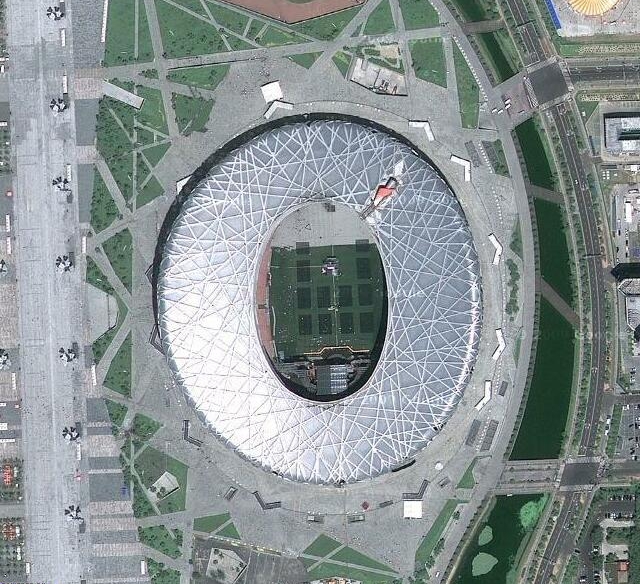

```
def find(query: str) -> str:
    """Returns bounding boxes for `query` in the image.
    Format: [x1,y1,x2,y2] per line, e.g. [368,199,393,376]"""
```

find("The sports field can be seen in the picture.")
[272,200,384,399]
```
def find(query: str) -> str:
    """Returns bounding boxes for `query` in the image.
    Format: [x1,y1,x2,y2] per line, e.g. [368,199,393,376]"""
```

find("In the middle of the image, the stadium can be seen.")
[159,121,482,483]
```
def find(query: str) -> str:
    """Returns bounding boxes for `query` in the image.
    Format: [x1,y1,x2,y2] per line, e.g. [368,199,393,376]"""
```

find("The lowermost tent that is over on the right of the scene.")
[403,501,422,518]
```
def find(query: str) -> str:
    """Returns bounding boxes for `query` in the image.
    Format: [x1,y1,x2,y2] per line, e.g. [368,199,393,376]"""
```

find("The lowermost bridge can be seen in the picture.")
[499,458,563,494]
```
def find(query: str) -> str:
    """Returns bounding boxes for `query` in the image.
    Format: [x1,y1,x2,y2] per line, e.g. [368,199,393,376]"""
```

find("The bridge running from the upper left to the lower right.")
[534,276,582,327]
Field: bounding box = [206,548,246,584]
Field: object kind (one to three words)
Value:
building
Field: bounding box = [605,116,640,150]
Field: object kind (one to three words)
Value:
building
